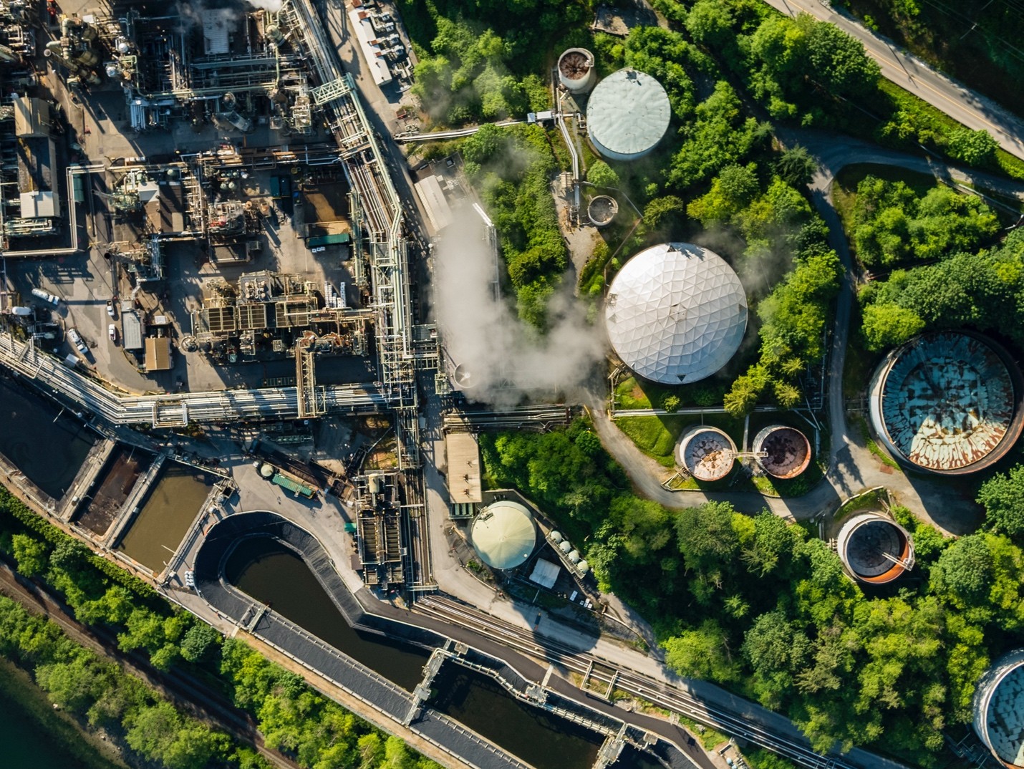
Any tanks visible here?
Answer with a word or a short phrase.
Yes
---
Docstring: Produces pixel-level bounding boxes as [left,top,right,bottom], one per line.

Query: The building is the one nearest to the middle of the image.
[446,434,482,503]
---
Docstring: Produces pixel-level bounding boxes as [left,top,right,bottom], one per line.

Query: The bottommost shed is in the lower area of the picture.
[529,557,560,589]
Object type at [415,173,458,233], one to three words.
shed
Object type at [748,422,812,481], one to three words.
storage tank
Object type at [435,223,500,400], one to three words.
cooling tower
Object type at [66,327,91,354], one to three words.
truck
